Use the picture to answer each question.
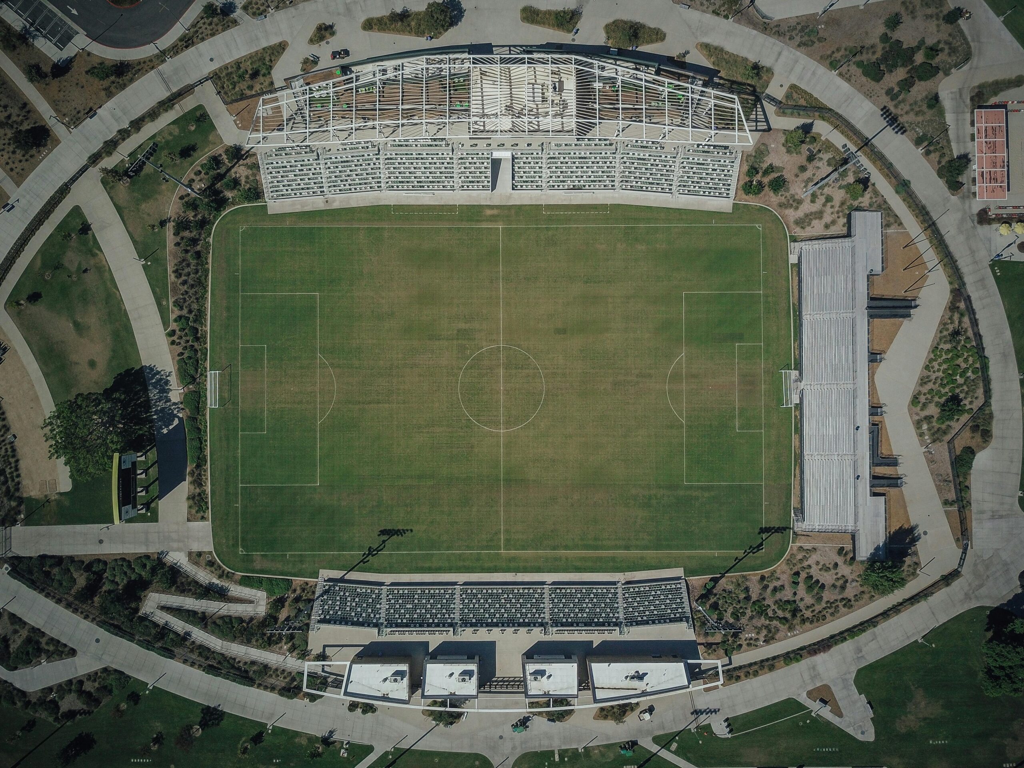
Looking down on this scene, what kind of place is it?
sports ground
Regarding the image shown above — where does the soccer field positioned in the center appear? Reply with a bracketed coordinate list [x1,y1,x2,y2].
[208,202,792,579]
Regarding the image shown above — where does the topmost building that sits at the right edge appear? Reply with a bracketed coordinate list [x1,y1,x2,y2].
[966,108,1008,201]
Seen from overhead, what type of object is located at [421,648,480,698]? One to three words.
building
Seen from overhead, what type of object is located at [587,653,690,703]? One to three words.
building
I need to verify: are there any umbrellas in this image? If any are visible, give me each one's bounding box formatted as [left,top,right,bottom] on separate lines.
[1013,223,1024,235]
[997,224,1011,236]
